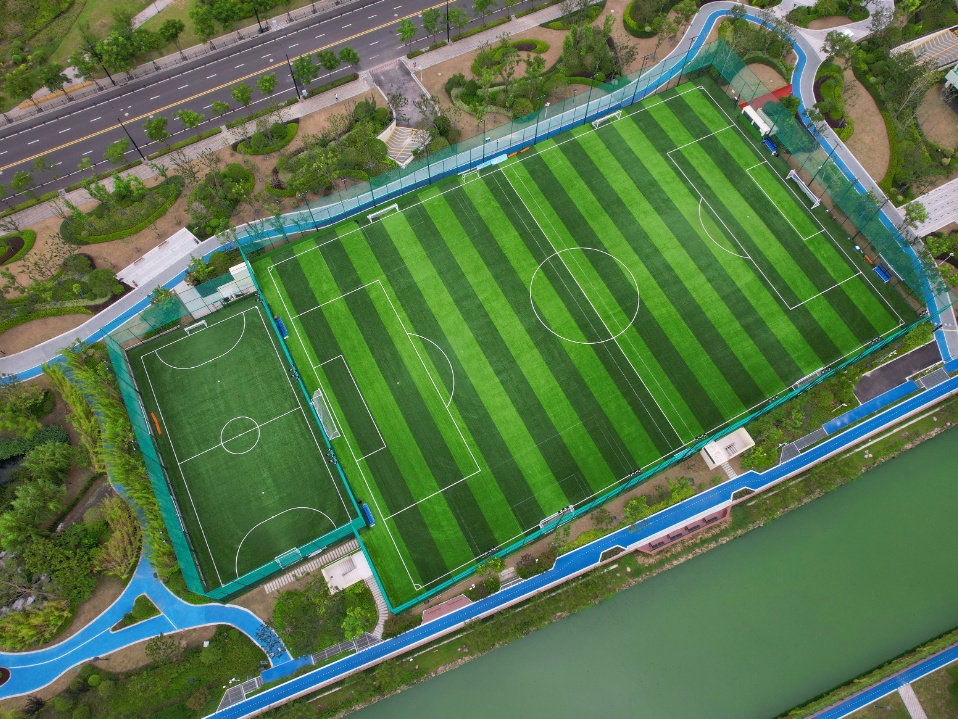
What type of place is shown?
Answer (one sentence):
It's a sports ground.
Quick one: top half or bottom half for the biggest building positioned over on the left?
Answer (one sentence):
The bottom half of the photo is where the biggest building positioned over on the left is.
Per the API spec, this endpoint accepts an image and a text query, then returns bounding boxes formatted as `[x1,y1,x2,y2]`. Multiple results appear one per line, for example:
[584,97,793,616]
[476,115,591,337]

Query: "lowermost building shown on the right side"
[700,430,756,469]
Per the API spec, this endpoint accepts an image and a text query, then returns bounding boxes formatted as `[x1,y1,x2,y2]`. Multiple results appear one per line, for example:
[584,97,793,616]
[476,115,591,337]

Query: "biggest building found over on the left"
[321,547,370,592]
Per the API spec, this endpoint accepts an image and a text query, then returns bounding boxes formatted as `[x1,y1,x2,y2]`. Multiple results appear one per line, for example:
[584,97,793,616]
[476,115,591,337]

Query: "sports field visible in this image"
[248,73,922,606]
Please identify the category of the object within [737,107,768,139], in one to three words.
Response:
building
